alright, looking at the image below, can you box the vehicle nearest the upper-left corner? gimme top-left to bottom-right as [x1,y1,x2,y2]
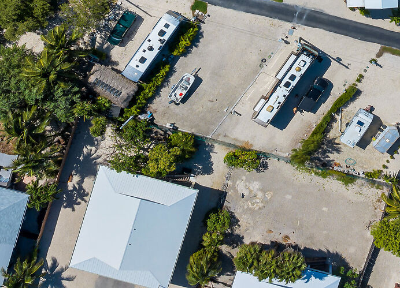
[108,11,138,48]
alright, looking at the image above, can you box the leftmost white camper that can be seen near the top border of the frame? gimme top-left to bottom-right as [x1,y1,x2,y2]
[124,8,189,82]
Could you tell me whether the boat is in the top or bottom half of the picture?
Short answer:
top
